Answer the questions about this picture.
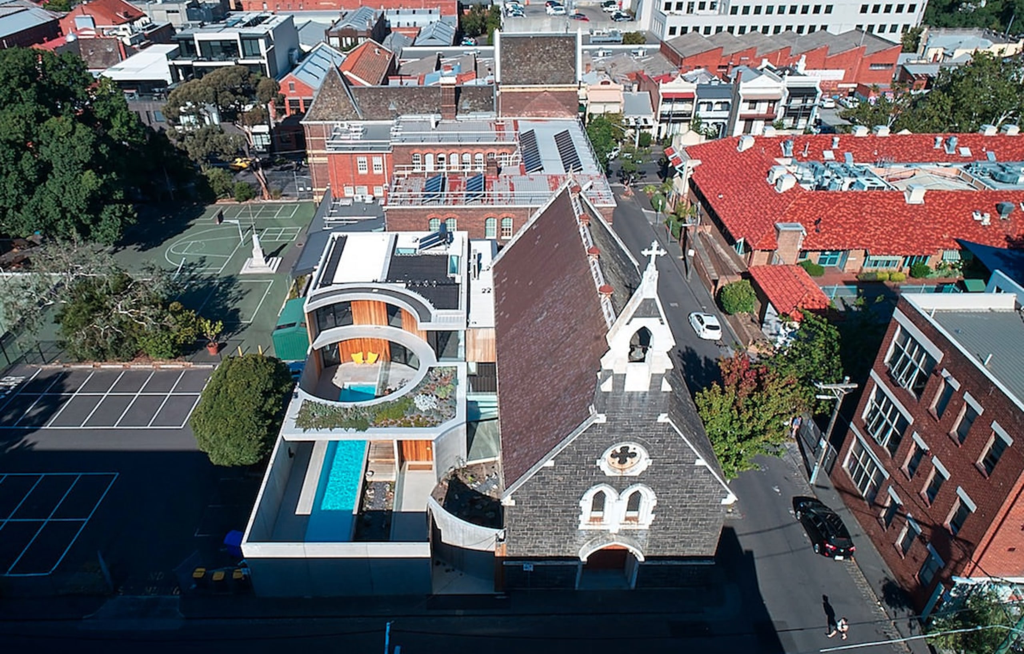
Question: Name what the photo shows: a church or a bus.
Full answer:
The image shows a church.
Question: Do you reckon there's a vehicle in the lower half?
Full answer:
Yes, there is a vehicle in the lower half.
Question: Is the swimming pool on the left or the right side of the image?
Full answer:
The swimming pool appears in the left half of the scene.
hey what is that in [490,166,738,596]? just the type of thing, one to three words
church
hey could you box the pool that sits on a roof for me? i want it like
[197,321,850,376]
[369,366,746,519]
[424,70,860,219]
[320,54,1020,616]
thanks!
[302,441,366,542]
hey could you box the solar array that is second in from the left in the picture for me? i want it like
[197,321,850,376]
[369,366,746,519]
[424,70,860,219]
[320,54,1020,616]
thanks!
[466,175,484,203]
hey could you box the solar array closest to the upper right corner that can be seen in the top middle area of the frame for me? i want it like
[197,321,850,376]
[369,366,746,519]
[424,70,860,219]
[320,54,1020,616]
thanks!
[554,129,583,172]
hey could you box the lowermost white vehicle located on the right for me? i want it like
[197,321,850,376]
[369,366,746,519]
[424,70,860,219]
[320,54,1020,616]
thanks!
[685,307,725,338]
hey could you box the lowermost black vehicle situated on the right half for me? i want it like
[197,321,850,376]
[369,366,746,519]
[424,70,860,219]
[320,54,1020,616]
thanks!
[789,486,855,549]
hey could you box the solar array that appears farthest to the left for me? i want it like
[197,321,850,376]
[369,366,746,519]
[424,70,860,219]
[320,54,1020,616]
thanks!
[425,175,443,203]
